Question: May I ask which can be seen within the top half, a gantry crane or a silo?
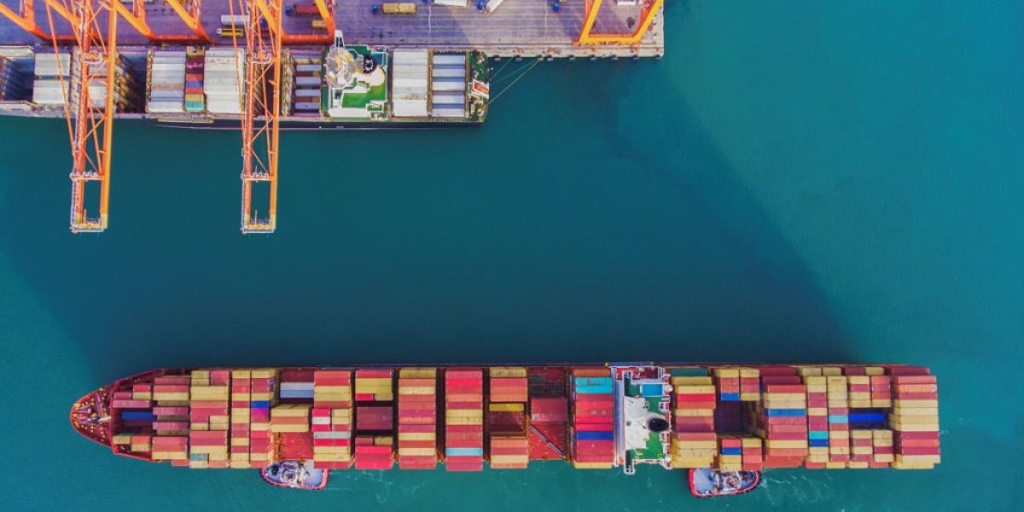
gantry crane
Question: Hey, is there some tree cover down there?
No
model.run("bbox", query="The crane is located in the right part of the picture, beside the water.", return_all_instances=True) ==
[578,0,667,45]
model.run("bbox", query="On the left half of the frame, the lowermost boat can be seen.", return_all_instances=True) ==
[260,461,331,489]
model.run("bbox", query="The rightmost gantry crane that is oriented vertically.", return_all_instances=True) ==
[221,0,334,235]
